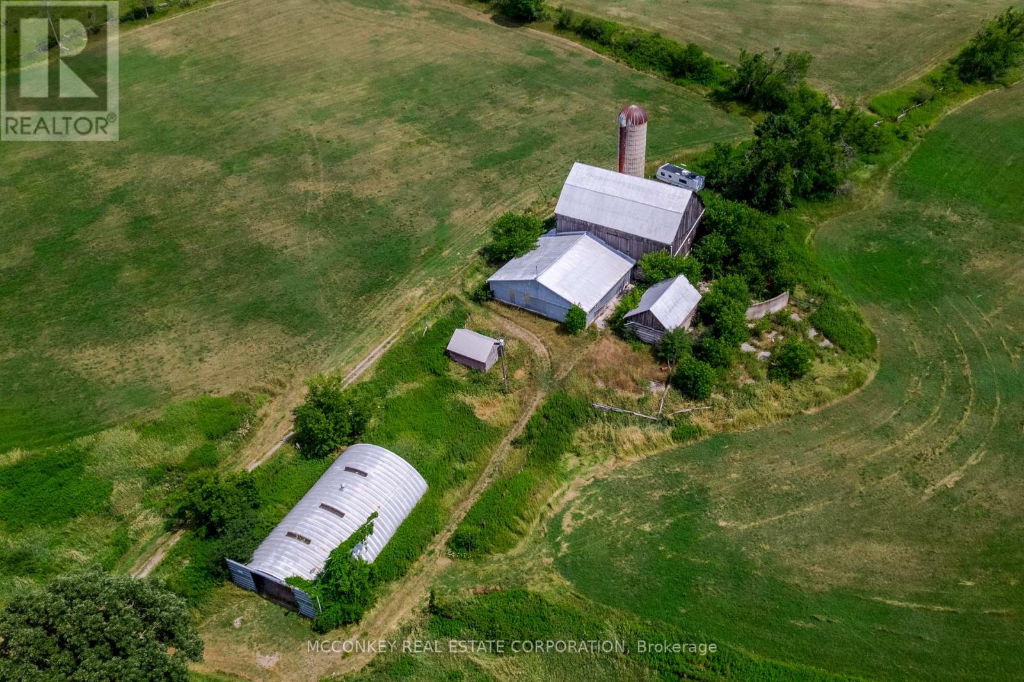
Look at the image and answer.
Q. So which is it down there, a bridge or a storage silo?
storage silo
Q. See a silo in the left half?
No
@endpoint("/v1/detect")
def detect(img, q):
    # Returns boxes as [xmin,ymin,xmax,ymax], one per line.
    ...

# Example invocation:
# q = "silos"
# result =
[616,105,648,178]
